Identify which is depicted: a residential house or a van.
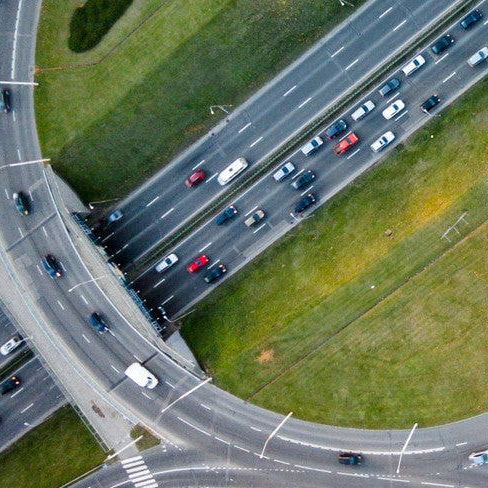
van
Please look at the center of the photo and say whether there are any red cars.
Yes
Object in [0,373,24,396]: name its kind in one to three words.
car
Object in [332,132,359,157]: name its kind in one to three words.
truck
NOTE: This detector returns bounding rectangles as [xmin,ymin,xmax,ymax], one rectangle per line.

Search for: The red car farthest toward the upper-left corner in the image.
[184,167,208,189]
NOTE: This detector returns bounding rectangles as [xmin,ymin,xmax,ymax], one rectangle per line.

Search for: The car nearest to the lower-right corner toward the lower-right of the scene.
[468,448,488,465]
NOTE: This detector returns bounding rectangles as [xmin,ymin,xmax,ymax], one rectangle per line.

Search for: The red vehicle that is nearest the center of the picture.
[186,253,210,275]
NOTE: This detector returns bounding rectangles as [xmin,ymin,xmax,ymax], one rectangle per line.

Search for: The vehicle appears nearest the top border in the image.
[458,9,484,31]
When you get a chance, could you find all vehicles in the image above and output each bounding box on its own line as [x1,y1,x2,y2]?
[0,334,24,356]
[468,448,488,465]
[186,253,210,275]
[216,157,250,186]
[102,208,127,229]
[350,100,376,122]
[431,33,455,54]
[124,362,158,387]
[242,207,268,230]
[336,450,364,466]
[13,190,33,218]
[466,45,488,68]
[292,169,316,191]
[370,129,395,153]
[401,54,426,77]
[154,301,172,319]
[270,161,294,184]
[203,262,227,284]
[0,85,12,113]
[378,76,402,98]
[293,191,318,215]
[0,373,24,396]
[324,119,348,141]
[332,132,359,157]
[458,9,484,31]
[155,251,181,274]
[299,135,325,158]
[184,167,208,189]
[417,92,444,114]
[382,98,407,121]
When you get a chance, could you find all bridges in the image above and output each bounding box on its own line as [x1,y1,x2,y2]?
[0,151,217,453]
